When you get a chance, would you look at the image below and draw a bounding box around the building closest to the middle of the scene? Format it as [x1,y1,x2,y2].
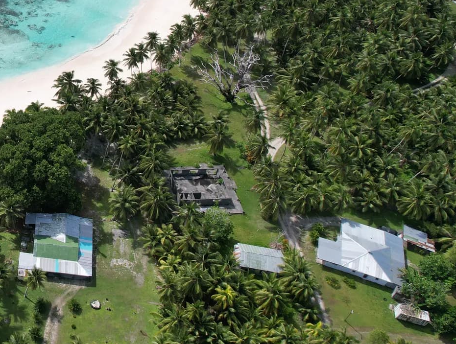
[166,163,244,215]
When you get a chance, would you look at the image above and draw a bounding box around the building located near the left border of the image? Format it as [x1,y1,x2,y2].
[18,214,93,282]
